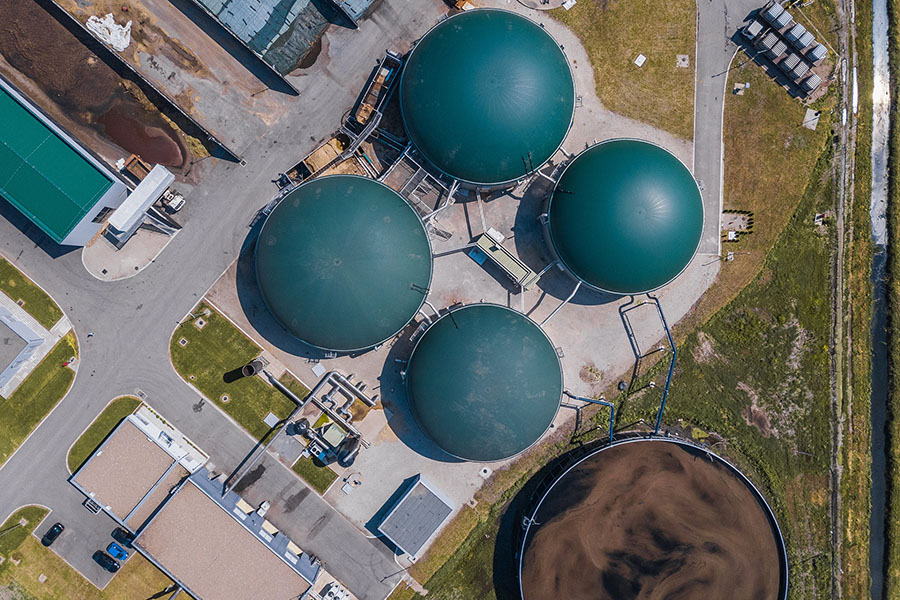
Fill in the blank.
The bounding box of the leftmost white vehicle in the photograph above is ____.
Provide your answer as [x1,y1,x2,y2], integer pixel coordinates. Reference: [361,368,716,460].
[163,187,190,213]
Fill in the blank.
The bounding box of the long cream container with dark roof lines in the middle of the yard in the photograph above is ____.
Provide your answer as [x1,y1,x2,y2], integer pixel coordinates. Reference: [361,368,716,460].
[475,232,537,293]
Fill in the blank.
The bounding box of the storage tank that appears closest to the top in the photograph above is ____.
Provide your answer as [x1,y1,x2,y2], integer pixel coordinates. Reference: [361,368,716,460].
[400,10,584,192]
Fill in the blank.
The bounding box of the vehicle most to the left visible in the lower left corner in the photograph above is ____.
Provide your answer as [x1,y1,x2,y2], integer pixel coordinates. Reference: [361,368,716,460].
[42,521,66,546]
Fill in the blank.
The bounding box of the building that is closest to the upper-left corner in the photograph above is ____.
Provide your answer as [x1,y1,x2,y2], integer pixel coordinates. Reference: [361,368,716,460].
[0,76,132,247]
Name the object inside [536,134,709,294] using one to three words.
storage tank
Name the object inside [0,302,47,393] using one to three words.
building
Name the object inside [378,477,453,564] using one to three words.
building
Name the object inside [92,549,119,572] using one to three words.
car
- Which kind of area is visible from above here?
industrial area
